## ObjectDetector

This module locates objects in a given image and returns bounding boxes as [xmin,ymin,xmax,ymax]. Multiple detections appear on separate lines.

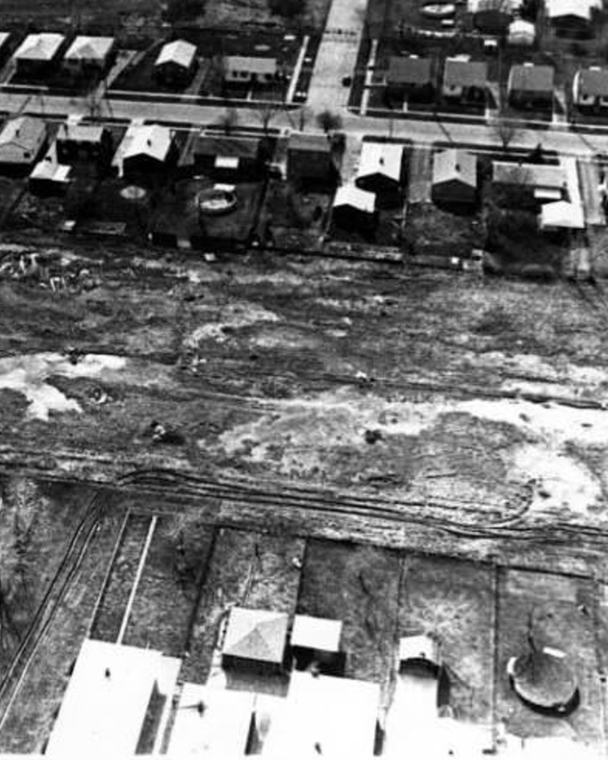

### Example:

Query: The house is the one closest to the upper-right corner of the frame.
[536,0,600,29]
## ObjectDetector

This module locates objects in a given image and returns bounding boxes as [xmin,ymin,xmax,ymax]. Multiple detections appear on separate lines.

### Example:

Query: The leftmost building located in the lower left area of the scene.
[45,640,181,760]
